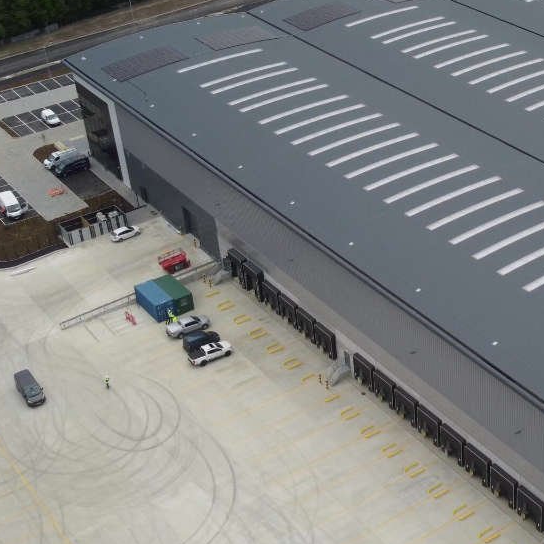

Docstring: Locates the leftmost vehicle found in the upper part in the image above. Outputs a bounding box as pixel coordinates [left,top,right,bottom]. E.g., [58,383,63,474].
[0,190,30,220]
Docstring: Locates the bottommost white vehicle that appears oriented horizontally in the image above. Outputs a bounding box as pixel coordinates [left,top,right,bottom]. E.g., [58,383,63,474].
[187,343,234,367]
